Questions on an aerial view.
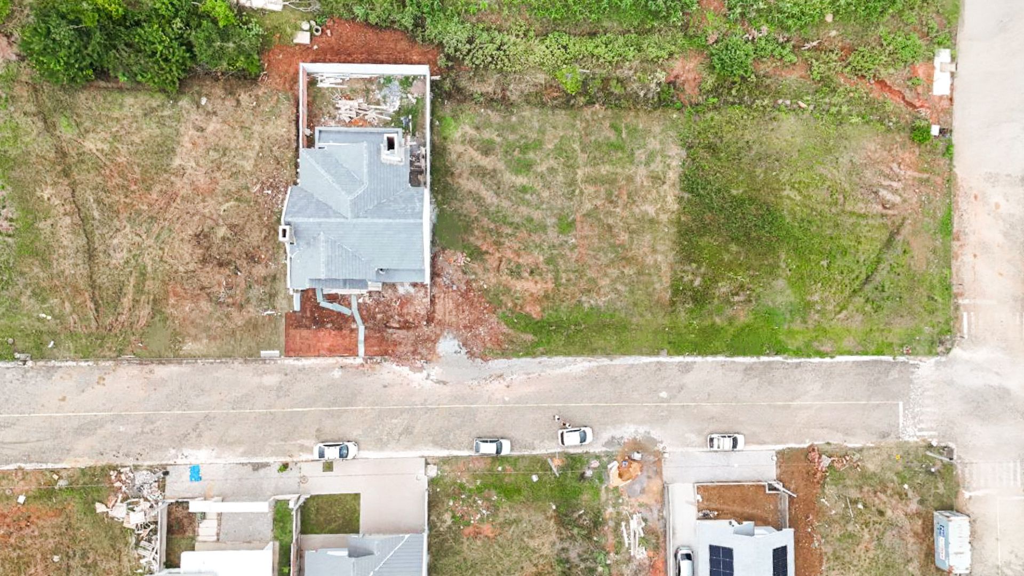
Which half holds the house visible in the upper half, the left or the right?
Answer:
left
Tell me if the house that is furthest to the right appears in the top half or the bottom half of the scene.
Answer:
bottom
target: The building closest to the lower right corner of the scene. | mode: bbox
[694,519,796,576]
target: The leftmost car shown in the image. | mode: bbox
[312,442,356,463]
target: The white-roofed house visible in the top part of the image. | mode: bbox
[279,127,430,293]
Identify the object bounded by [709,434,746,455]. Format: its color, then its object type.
white car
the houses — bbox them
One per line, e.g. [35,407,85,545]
[158,540,279,576]
[293,533,424,576]
[694,519,796,576]
[279,127,430,293]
